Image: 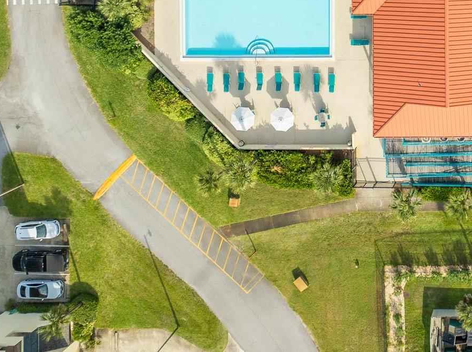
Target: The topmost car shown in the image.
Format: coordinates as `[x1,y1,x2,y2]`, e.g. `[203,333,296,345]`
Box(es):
[14,217,64,242]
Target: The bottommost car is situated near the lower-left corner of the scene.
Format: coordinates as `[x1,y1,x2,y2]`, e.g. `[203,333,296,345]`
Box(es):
[16,277,66,302]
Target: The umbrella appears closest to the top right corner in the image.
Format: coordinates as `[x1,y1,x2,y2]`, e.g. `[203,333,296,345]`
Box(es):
[273,106,296,129]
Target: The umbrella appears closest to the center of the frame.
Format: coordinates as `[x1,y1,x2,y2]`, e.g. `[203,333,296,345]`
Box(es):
[232,106,256,130]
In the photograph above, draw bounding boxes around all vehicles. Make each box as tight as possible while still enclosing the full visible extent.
[13,248,71,275]
[14,217,64,242]
[16,277,66,302]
